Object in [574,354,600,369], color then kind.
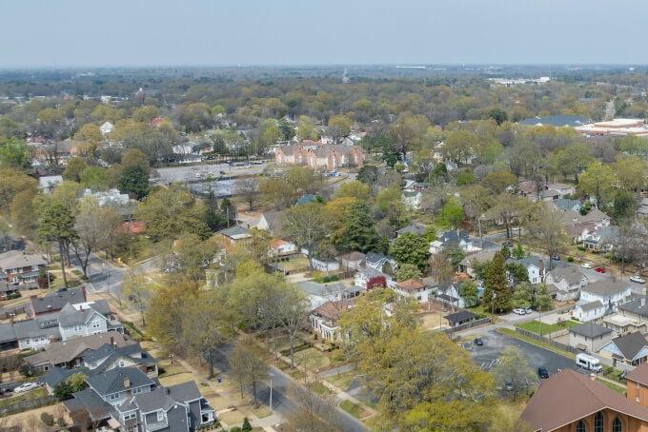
white vehicle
